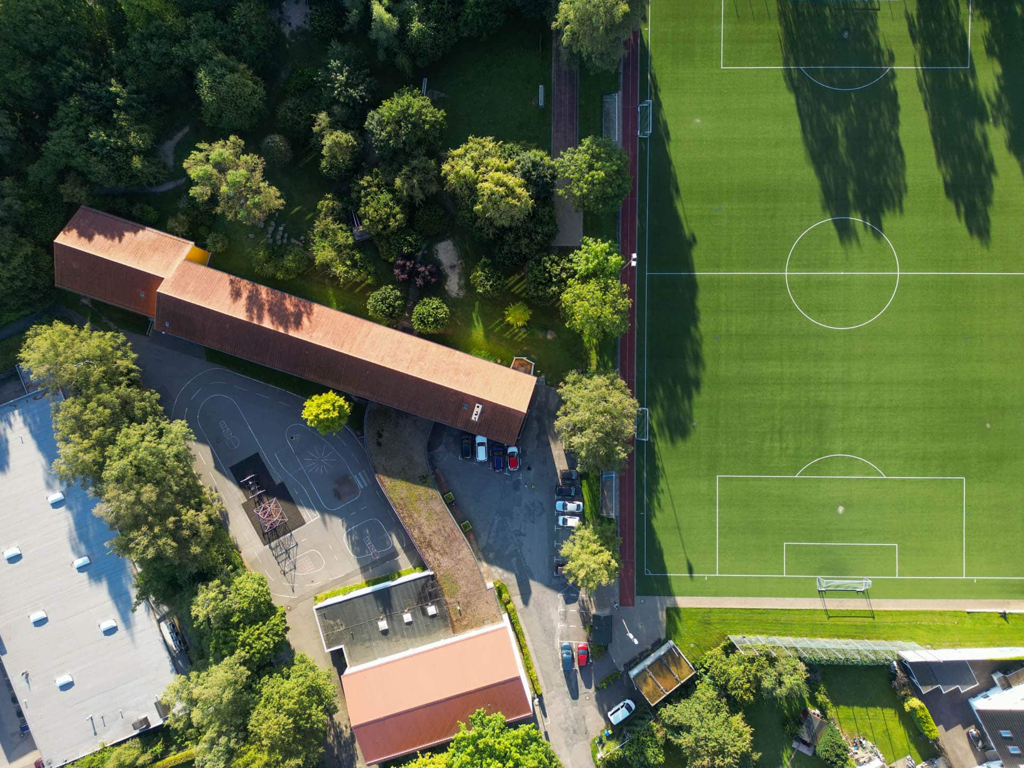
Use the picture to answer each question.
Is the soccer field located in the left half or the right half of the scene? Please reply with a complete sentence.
The soccer field is on the right side of the image.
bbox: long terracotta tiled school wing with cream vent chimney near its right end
[154,259,537,446]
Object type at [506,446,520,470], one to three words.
car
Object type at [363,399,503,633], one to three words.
building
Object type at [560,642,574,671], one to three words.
car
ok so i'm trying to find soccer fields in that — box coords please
[636,0,1024,598]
